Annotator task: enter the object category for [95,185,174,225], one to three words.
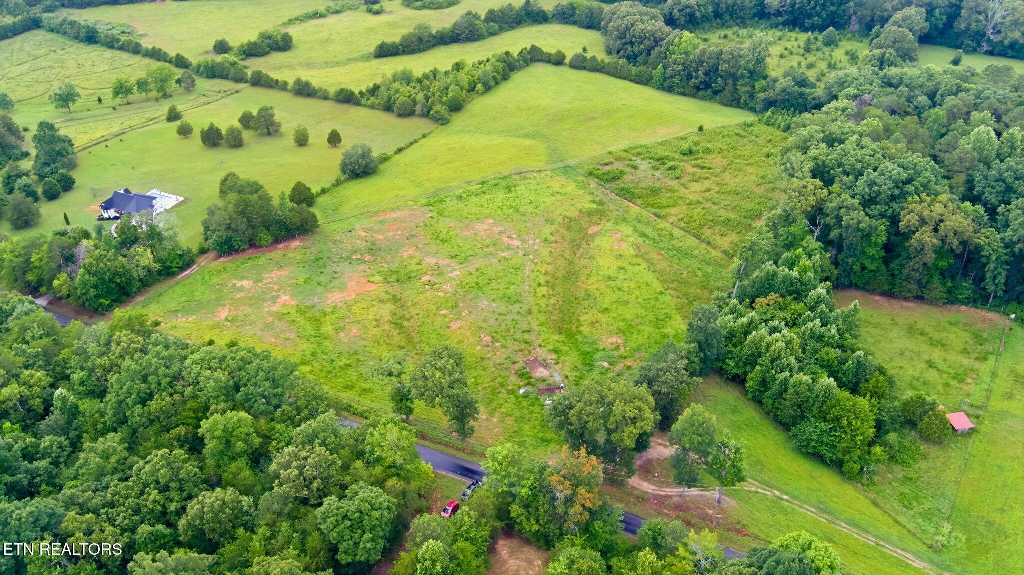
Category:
house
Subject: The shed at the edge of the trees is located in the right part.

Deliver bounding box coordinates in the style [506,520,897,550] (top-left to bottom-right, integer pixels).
[944,412,976,436]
